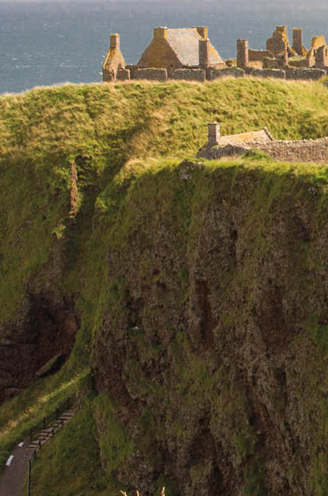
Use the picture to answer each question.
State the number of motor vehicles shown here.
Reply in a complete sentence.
The picture shows no motor vehicles.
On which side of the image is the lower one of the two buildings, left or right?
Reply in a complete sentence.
You can find the lower one of the two buildings on the right side of the picture.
